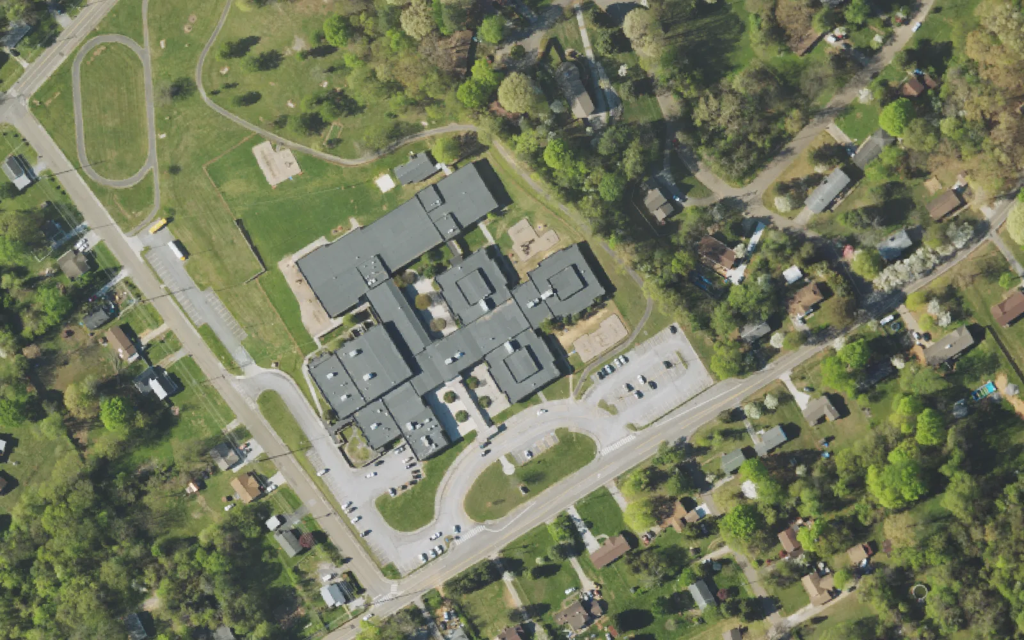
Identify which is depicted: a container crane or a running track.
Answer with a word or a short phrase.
running track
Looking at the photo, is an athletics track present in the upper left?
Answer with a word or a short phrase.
Yes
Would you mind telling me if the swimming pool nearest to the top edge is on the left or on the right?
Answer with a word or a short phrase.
right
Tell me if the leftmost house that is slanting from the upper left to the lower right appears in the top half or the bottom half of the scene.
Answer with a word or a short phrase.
top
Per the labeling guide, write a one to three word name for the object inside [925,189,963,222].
house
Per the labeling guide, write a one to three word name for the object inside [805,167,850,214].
house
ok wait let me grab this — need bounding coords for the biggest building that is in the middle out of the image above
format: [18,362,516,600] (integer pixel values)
[296,163,605,461]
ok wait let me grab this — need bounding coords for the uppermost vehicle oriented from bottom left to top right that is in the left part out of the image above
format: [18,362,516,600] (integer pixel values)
[149,219,167,234]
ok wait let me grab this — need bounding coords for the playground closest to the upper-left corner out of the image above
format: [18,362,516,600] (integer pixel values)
[252,141,301,187]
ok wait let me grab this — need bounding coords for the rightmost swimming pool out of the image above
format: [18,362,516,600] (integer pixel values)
[973,381,999,401]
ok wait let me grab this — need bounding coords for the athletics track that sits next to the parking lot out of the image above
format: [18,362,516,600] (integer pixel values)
[73,34,156,189]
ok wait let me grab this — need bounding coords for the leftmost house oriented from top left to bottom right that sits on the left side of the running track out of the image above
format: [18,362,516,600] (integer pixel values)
[0,153,30,190]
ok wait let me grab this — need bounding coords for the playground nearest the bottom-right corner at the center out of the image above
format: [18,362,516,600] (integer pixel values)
[574,314,628,362]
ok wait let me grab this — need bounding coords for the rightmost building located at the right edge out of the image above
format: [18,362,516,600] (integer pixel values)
[985,288,1024,330]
